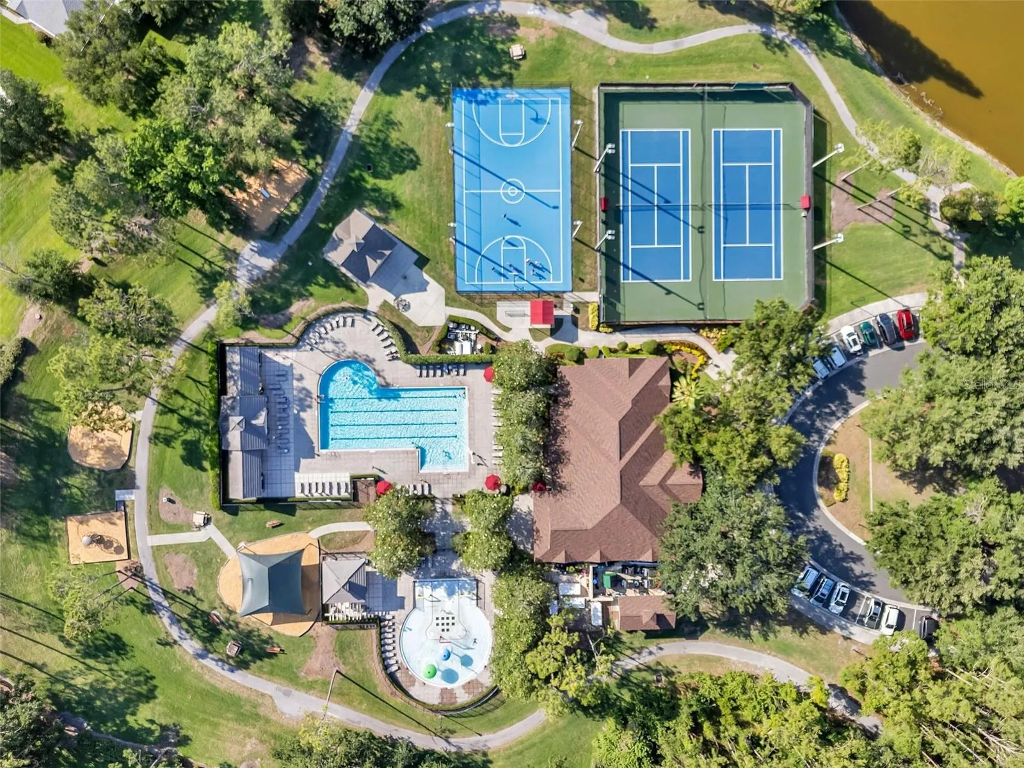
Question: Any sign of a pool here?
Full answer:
Yes, a pool appears in the view.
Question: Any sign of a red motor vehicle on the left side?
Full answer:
No, no red motor vehicle is visible on the left side.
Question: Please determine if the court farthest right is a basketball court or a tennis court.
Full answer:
It turns out the court farthest right is a tennis court.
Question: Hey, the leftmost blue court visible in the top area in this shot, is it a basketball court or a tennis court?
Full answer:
In the photo, the leftmost blue court visible in the top area shows up as a basketball court.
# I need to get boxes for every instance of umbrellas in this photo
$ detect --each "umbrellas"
[481,366,492,382]
[376,480,392,495]
[532,482,547,495]
[484,474,501,491]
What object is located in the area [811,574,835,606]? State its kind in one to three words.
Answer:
car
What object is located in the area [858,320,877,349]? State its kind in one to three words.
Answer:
car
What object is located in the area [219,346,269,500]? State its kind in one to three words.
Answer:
building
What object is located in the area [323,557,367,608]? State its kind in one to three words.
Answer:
building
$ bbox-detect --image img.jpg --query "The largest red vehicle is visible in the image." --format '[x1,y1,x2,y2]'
[896,309,913,341]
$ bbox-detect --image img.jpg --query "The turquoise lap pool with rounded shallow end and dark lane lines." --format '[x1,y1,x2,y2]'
[318,359,470,473]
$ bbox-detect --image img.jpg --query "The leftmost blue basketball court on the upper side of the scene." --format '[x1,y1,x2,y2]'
[453,89,572,293]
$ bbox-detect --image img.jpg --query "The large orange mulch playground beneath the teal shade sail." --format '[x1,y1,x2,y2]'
[217,532,322,637]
